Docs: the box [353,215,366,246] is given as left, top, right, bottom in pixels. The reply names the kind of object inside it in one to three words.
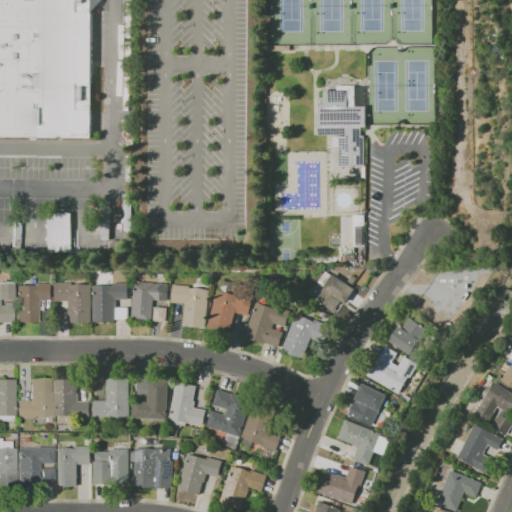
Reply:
building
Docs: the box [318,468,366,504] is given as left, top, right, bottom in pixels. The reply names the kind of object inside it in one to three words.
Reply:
house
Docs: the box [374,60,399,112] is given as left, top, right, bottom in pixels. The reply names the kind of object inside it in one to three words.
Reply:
tennis court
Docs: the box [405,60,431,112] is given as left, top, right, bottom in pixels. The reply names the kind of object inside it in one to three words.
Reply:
tennis court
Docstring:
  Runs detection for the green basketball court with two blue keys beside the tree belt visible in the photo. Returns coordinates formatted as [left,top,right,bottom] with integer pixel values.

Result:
[270,219,300,262]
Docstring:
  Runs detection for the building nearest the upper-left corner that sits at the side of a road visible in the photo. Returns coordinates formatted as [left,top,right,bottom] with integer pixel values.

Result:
[0,0,104,140]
